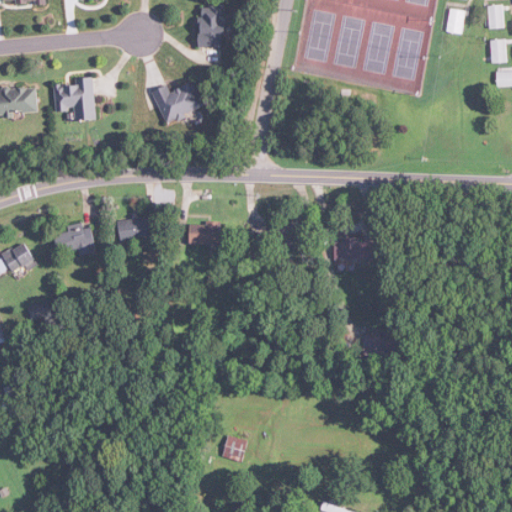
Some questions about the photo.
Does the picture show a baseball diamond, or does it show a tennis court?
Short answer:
tennis court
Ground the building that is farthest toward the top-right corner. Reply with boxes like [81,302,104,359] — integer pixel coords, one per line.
[488,4,510,30]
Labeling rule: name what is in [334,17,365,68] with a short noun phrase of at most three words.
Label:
tennis court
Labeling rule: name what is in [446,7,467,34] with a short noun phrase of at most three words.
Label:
house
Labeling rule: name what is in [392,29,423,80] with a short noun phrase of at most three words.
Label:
tennis court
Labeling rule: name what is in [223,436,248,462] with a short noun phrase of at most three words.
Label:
barn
